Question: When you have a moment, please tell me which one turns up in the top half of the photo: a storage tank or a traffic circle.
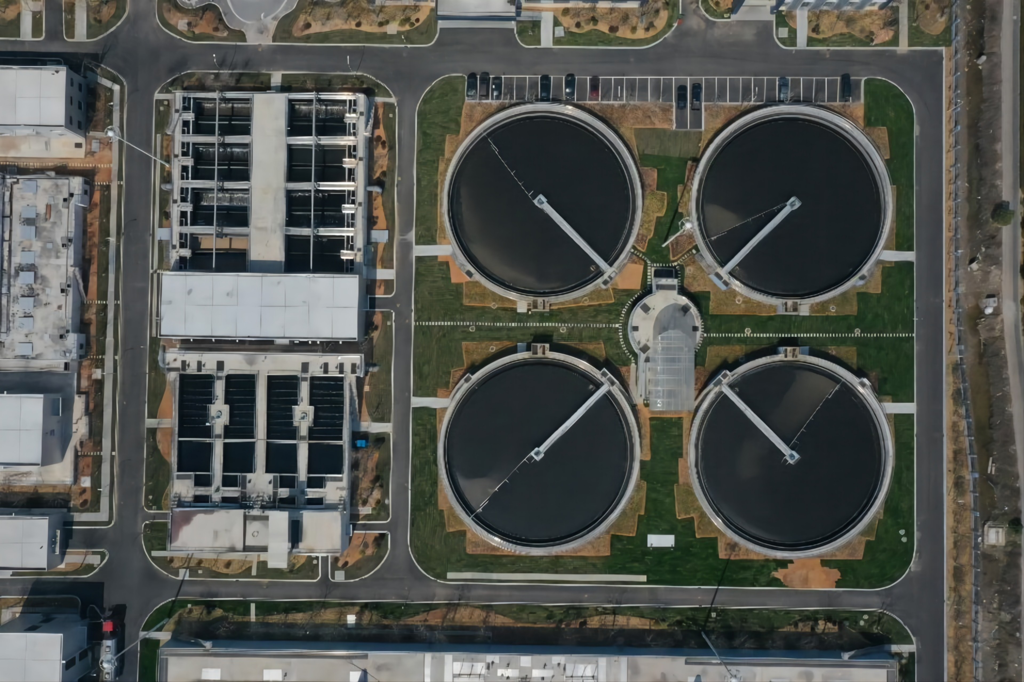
storage tank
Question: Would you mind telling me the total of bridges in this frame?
4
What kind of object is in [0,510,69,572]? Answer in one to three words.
building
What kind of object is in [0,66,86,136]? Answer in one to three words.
building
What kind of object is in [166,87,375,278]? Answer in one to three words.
storage tank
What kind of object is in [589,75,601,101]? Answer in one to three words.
vehicle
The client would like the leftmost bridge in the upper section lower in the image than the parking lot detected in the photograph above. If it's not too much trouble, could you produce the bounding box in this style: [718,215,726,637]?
[538,198,614,279]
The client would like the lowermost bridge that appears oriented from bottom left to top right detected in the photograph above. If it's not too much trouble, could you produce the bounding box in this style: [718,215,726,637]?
[536,376,611,457]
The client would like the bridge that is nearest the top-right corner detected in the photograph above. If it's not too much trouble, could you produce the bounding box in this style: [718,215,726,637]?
[718,204,799,280]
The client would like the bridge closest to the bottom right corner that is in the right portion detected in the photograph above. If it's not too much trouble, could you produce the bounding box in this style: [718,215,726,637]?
[723,376,798,460]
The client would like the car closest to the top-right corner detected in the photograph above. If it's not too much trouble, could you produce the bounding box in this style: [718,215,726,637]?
[838,74,853,100]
